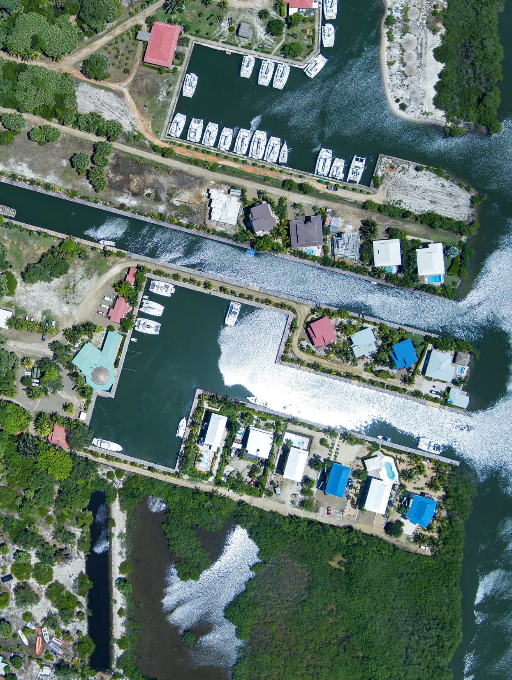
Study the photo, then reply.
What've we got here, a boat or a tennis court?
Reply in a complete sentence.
The one in the frame is a boat.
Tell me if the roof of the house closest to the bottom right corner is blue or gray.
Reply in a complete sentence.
From above, the roof of the house closest to the bottom right corner appears blue.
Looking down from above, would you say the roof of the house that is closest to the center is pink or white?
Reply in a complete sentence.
The roof of the house that is closest to the center is pink.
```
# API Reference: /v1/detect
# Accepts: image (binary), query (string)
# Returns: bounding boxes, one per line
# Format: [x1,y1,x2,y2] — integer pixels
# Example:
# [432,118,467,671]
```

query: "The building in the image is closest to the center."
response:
[304,317,336,349]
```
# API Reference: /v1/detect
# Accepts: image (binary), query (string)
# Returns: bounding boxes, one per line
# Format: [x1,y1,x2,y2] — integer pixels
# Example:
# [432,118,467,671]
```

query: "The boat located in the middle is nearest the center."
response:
[226,301,241,327]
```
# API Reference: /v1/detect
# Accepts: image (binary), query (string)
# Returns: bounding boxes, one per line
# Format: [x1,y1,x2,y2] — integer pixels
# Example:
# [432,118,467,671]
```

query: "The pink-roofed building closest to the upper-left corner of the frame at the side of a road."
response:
[144,22,181,67]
